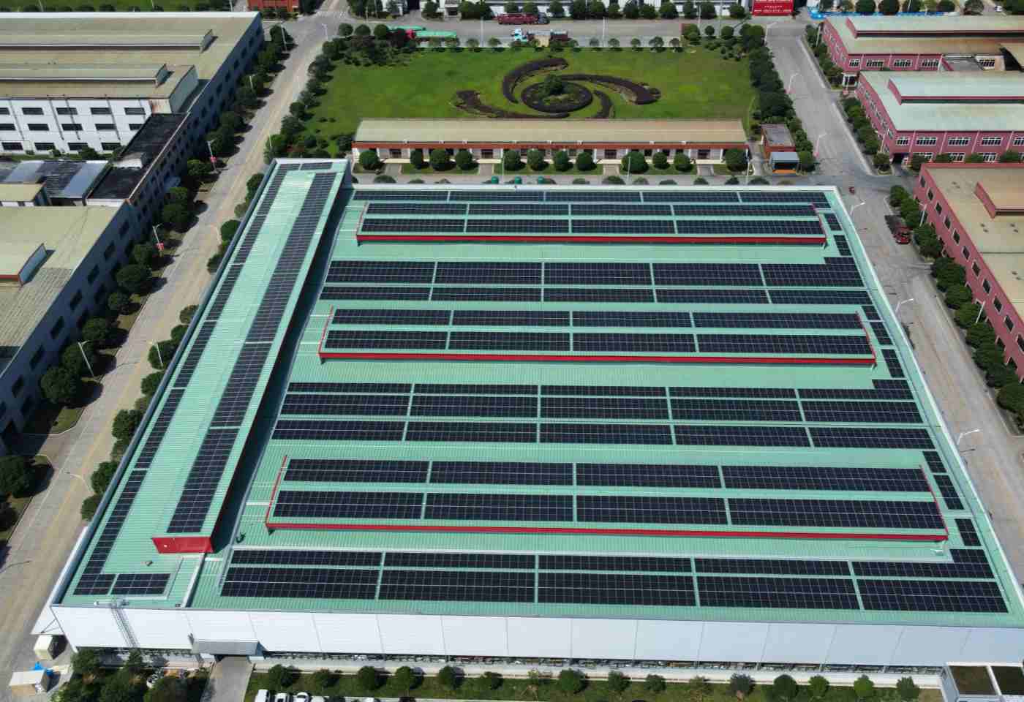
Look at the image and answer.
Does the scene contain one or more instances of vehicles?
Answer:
Yes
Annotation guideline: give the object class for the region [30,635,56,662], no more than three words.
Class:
building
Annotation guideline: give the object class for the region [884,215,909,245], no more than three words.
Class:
truck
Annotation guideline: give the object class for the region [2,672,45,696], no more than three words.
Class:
building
